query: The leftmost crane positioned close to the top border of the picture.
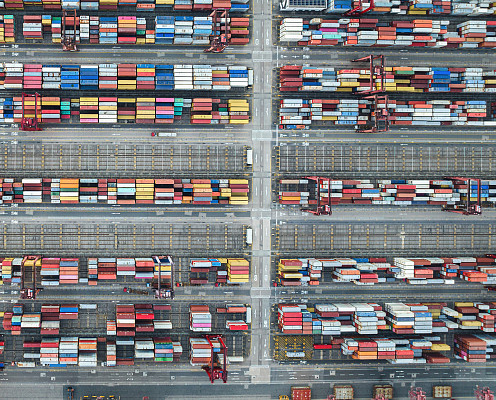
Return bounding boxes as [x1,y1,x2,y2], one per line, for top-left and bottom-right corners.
[60,9,84,56]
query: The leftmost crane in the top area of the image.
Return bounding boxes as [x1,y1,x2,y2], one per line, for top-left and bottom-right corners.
[21,93,47,134]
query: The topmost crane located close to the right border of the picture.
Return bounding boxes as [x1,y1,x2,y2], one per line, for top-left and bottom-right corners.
[441,177,483,216]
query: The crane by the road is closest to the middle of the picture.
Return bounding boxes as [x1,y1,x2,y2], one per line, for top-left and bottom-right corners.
[299,177,331,217]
